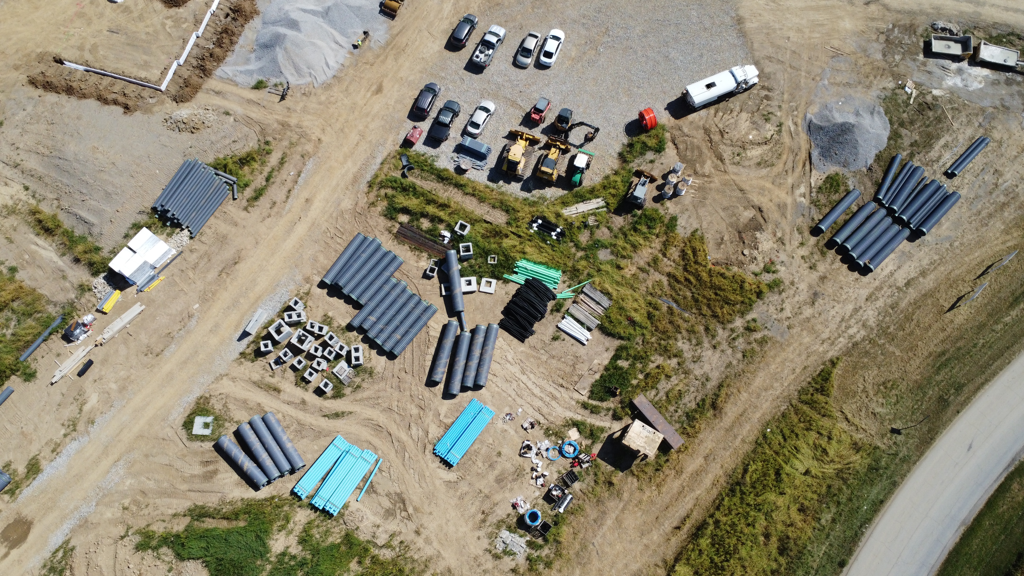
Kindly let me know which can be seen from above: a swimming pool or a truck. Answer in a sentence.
Visible in the photo is a truck.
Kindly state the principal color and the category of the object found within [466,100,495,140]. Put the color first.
white car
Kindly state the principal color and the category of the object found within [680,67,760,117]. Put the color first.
white truck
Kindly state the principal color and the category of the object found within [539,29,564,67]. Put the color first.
white car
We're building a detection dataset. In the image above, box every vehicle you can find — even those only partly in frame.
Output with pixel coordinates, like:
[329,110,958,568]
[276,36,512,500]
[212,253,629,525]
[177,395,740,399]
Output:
[466,100,495,140]
[624,169,660,211]
[500,132,542,180]
[680,67,760,117]
[530,98,553,127]
[566,150,592,191]
[516,30,542,69]
[378,0,406,15]
[550,109,599,143]
[429,98,460,144]
[452,14,480,50]
[536,138,571,182]
[472,24,506,70]
[539,29,564,67]
[413,82,441,120]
